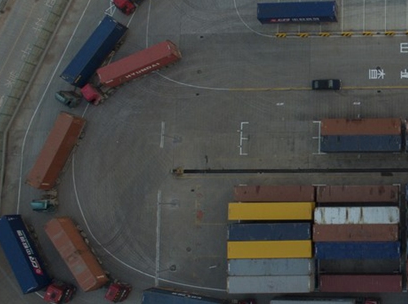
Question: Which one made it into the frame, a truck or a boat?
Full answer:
Looking from above, you can make out a truck.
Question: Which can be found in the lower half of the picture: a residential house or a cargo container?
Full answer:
It is a cargo container that can be seen in the lower half of the picture.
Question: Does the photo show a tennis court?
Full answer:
No, no tennis court is visible in the scene.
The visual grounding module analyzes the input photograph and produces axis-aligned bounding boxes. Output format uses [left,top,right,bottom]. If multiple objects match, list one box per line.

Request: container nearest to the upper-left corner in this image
[59,13,126,90]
